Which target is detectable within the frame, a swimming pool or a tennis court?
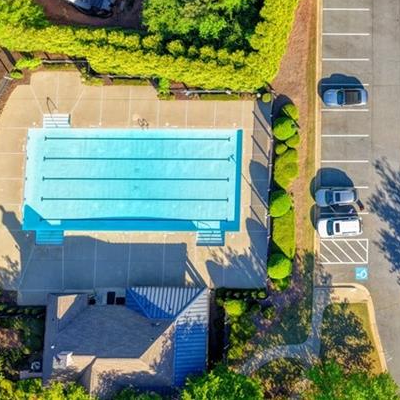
swimming pool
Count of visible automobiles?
3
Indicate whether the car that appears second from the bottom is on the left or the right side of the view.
right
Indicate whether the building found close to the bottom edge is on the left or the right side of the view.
left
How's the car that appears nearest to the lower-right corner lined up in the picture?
from left to right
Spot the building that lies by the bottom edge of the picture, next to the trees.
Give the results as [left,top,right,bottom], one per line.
[42,285,212,400]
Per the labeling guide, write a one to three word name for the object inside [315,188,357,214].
car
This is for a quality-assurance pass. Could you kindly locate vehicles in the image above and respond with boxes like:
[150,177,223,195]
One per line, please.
[323,87,367,107]
[315,188,357,214]
[318,218,362,241]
